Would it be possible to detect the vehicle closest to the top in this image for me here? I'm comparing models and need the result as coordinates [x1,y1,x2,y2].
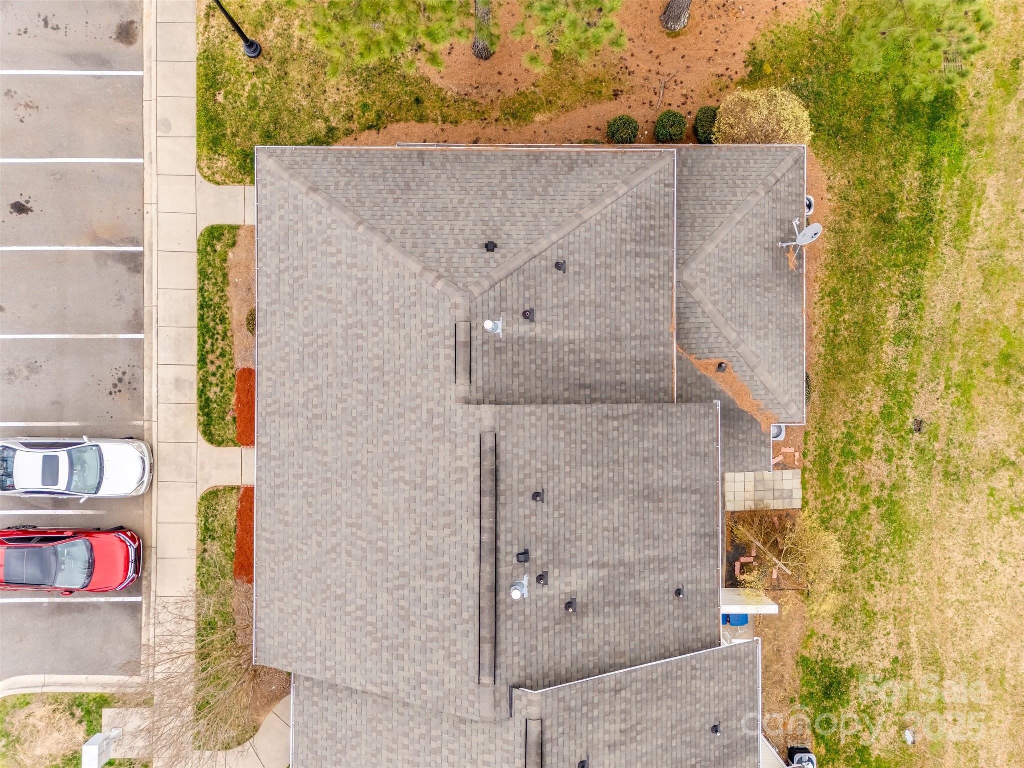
[0,432,155,505]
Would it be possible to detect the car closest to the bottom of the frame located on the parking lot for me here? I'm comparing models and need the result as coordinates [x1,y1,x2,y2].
[0,524,143,600]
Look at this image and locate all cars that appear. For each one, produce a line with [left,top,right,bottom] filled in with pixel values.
[0,524,143,600]
[0,432,155,505]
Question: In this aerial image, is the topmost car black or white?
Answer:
white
